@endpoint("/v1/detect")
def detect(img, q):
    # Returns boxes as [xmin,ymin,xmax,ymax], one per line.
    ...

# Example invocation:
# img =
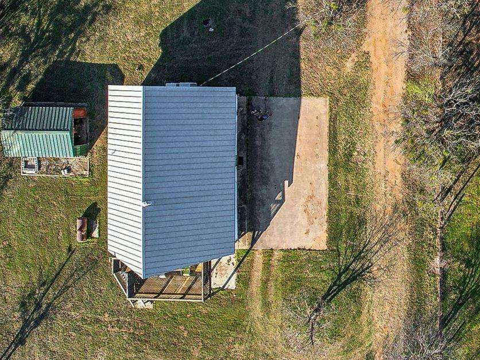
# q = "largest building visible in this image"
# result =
[108,85,245,278]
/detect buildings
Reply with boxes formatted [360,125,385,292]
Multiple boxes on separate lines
[108,85,245,278]
[1,102,100,158]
